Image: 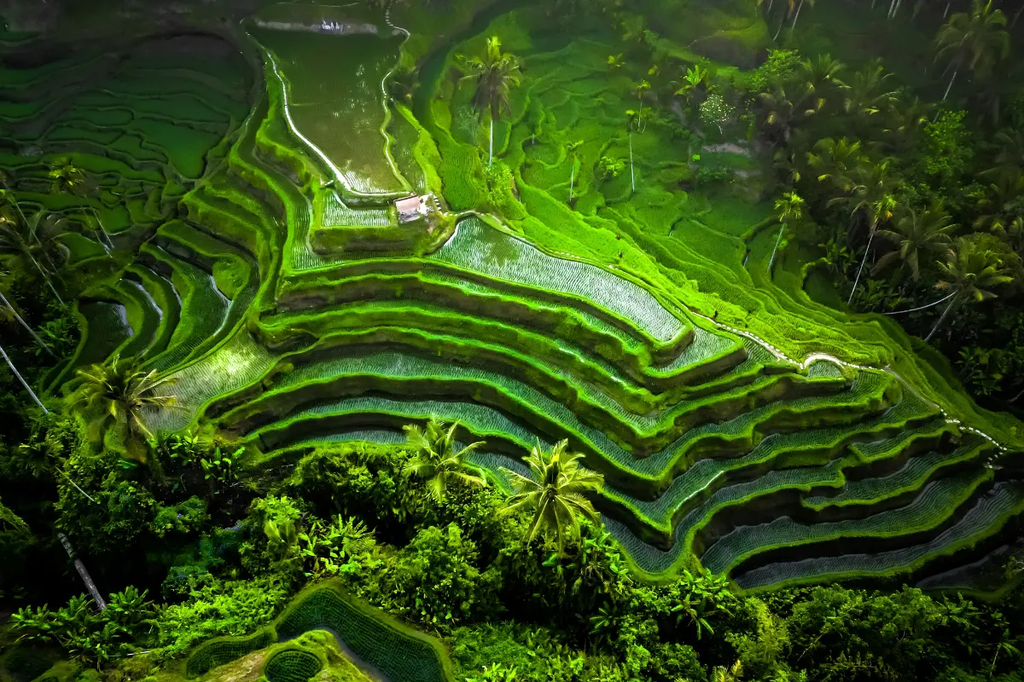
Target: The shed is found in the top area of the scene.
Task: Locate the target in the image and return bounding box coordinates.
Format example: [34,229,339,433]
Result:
[394,199,421,222]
